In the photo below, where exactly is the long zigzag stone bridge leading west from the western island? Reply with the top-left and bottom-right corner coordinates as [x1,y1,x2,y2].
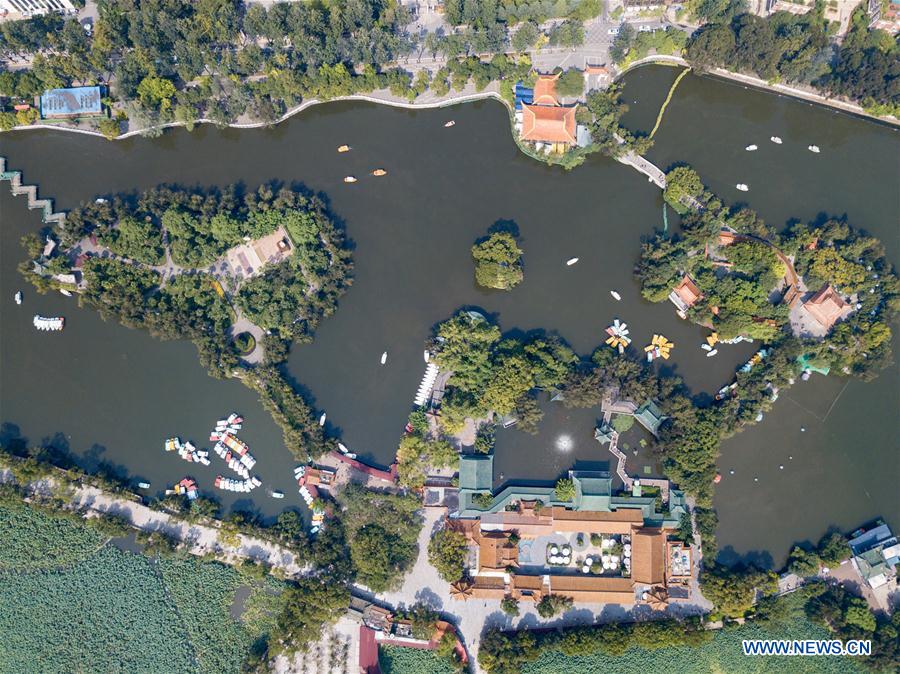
[0,155,67,230]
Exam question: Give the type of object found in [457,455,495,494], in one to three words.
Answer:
building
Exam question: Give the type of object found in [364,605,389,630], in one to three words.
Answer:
house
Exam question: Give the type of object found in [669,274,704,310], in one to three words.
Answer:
building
